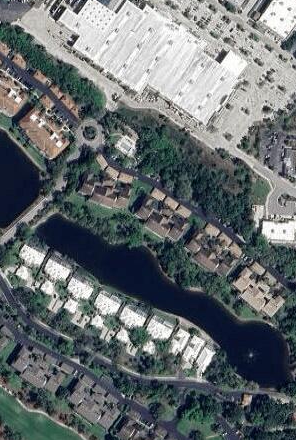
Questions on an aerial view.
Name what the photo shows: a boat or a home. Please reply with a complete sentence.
The image shows a home.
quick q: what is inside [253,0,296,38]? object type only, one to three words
building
